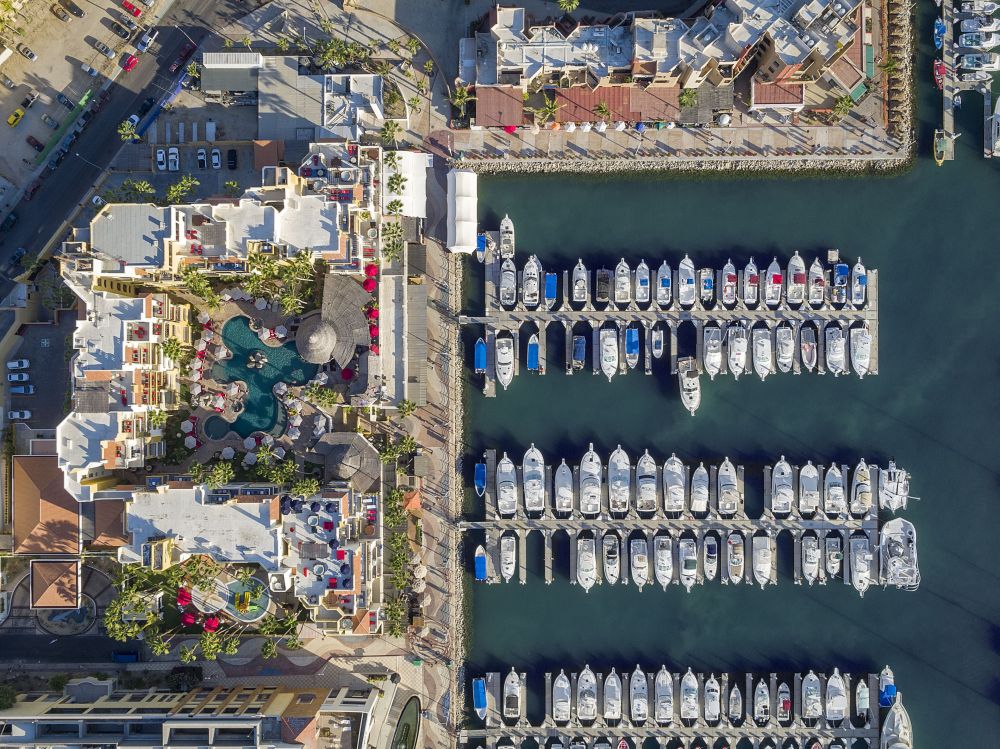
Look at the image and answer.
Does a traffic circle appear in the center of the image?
No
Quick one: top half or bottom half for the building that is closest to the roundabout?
bottom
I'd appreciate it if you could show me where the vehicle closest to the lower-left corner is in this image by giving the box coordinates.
[109,649,142,664]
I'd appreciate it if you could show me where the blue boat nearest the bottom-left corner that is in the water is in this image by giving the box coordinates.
[473,675,486,720]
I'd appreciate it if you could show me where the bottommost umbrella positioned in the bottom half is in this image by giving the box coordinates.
[388,671,402,686]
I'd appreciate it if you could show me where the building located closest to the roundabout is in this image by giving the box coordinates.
[30,554,95,608]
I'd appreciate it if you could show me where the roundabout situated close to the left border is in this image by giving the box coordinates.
[36,596,97,638]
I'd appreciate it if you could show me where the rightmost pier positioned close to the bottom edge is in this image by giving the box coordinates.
[485,672,883,749]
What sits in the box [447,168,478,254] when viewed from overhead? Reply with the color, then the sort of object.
white tent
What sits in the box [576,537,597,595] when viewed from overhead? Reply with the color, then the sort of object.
white boat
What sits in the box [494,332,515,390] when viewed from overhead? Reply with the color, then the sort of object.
white boat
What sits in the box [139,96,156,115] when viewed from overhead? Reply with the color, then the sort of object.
black car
